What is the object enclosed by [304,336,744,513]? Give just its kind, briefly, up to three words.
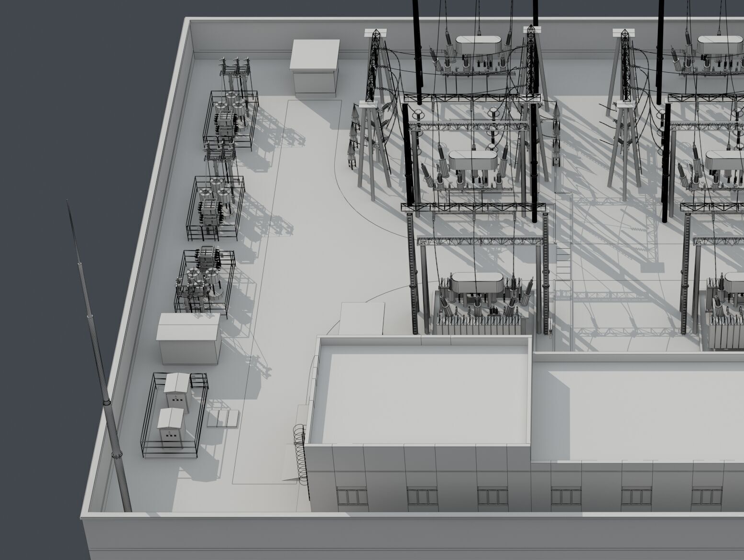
building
